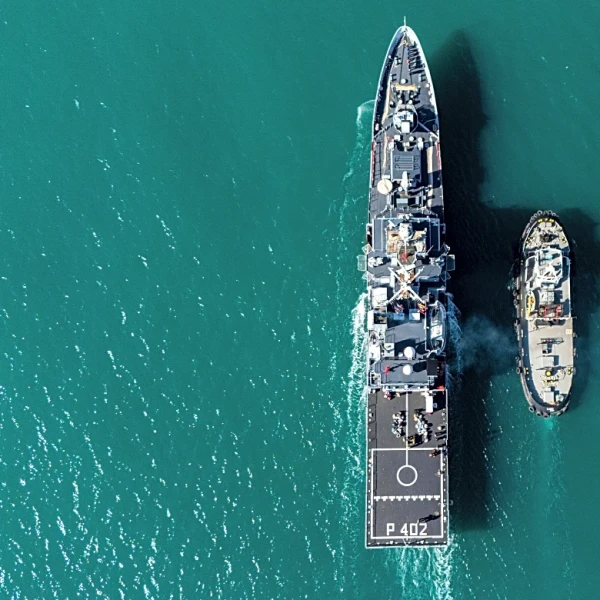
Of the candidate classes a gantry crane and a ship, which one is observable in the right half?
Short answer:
ship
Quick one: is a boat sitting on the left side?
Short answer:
No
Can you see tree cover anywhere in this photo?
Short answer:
No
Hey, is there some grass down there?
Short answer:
No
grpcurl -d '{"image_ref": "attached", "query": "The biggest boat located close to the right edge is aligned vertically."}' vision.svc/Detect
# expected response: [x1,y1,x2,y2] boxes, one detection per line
[512,209,578,417]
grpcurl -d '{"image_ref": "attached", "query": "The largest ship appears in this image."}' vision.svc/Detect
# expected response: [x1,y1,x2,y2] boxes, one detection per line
[357,16,455,548]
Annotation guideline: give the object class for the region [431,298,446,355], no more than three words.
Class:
boat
